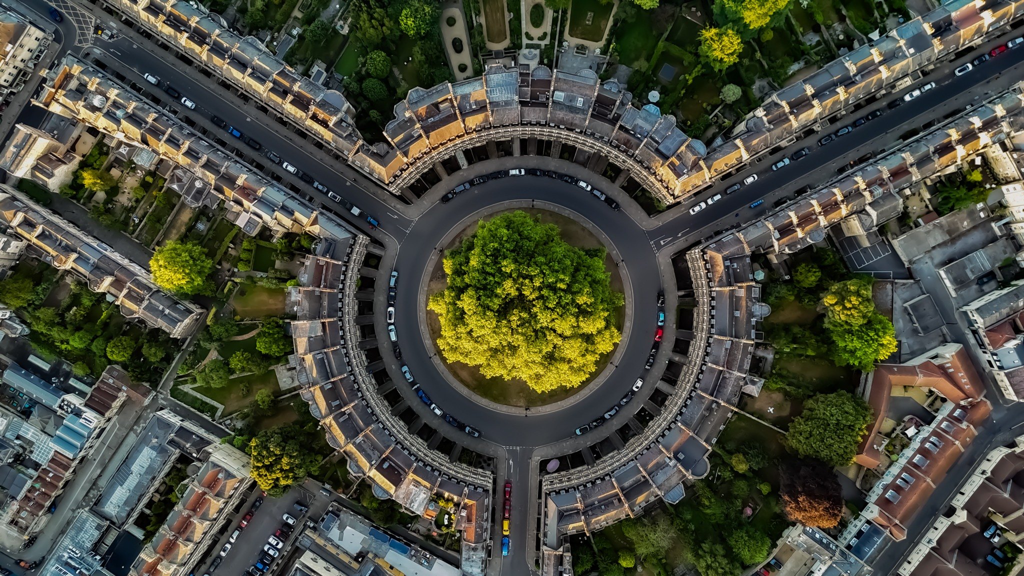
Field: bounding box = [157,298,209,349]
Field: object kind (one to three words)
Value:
house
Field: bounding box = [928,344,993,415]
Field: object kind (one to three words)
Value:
building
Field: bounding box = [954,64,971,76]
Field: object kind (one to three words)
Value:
vehicle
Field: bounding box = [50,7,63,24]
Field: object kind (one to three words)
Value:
vehicle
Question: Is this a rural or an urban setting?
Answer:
urban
